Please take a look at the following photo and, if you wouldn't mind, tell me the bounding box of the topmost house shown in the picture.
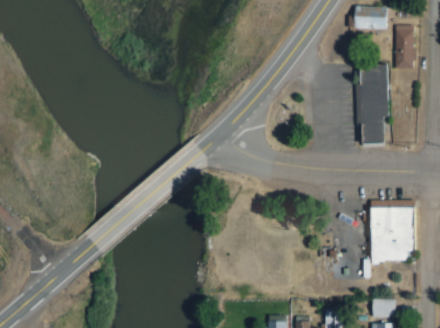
[349,5,388,30]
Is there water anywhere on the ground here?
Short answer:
Yes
